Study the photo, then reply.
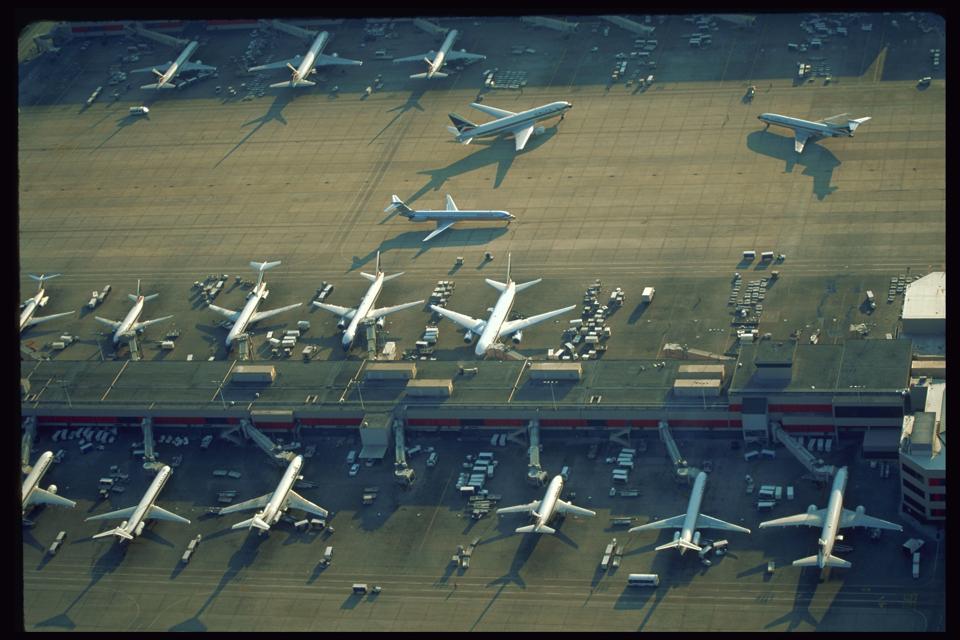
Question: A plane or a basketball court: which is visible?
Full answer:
Of the two, only a plane appears.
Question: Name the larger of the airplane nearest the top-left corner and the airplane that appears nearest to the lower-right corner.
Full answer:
The airplane that appears nearest to the lower-right corner is larger than the airplane nearest the top-left corner.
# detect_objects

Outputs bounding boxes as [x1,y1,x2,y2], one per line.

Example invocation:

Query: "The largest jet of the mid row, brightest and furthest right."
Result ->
[431,252,573,357]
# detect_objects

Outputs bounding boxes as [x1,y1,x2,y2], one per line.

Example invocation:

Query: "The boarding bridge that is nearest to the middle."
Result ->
[492,343,537,359]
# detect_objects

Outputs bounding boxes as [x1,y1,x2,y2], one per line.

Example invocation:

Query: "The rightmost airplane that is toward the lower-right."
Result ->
[759,465,903,566]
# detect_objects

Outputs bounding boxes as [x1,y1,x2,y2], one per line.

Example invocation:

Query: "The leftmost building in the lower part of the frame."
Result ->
[0,359,734,467]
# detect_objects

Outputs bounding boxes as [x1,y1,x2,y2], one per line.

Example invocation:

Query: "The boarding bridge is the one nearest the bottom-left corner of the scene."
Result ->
[17,416,39,479]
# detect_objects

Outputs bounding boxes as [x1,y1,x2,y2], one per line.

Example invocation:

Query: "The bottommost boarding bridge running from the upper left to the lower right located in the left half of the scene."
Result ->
[234,423,293,472]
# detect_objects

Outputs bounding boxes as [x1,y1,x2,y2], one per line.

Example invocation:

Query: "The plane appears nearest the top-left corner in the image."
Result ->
[131,40,218,88]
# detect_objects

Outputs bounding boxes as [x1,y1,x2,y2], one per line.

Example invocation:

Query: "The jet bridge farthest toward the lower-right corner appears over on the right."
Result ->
[770,428,836,487]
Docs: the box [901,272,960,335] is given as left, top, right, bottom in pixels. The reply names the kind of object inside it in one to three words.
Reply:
building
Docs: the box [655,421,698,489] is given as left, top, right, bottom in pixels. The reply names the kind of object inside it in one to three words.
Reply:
jet bridge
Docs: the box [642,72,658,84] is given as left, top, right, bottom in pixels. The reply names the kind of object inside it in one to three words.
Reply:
vehicle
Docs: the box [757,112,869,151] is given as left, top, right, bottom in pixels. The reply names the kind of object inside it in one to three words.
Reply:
airplane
